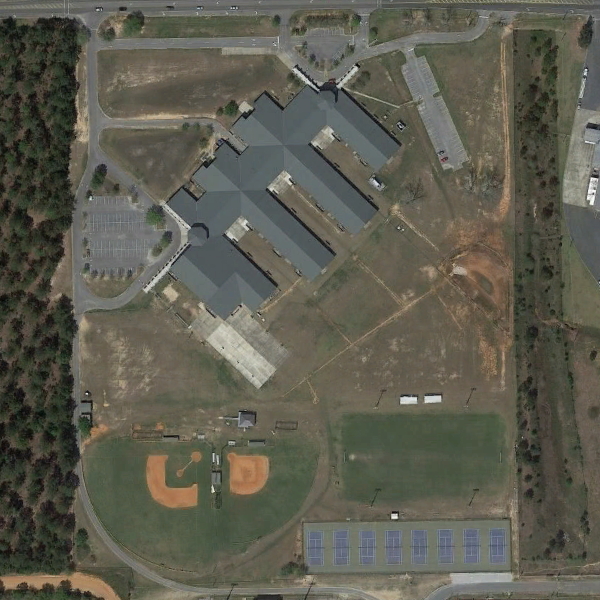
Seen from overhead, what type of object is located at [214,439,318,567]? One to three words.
baseball field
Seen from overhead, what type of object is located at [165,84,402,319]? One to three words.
building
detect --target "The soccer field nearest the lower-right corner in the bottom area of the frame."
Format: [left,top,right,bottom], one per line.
[342,415,506,504]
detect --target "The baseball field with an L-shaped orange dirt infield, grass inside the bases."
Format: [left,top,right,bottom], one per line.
[84,438,214,572]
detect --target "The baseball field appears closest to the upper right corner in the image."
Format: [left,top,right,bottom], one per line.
[448,246,506,320]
